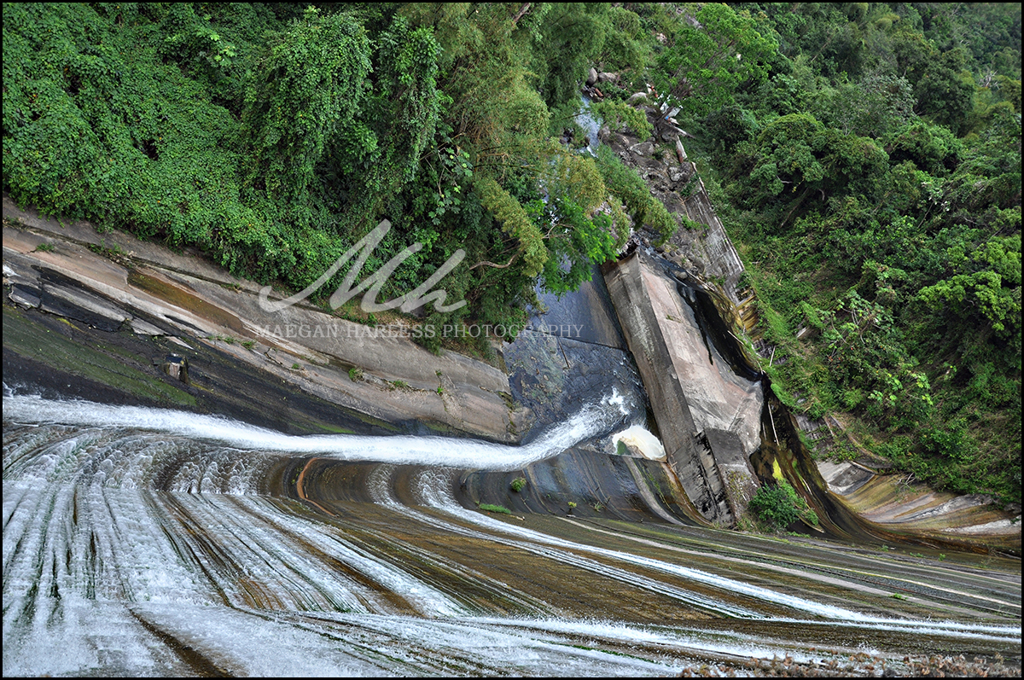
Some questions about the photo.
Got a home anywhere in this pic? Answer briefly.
No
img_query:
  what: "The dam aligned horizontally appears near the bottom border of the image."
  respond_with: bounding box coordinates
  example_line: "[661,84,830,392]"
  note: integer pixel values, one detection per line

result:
[0,425,1024,680]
